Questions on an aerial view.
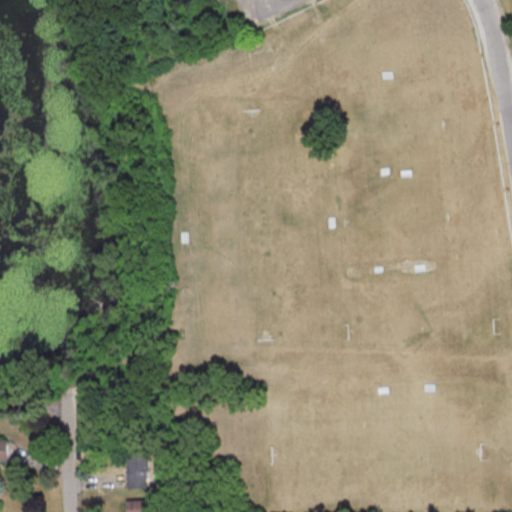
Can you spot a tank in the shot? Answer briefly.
No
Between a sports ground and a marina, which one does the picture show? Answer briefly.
sports ground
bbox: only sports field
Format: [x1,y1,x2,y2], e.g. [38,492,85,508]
[148,0,512,512]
